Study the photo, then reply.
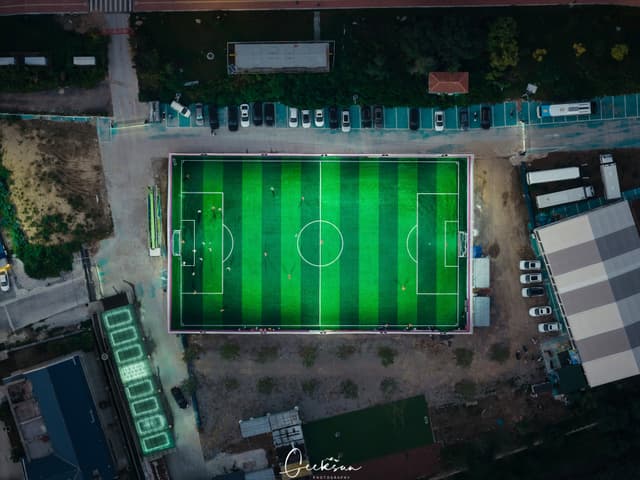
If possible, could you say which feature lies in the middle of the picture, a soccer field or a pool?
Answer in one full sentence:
Visible in the middle of the picture is a soccer field.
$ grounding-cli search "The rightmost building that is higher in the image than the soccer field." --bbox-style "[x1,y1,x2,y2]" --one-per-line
[429,72,468,95]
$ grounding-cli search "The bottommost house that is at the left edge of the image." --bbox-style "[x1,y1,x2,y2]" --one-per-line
[4,356,121,480]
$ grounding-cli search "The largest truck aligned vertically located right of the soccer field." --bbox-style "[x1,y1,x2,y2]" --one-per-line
[594,156,620,201]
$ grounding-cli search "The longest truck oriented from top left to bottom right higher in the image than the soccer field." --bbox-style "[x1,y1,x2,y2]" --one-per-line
[169,99,193,120]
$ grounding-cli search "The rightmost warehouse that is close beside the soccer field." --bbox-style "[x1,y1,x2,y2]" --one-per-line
[529,196,640,389]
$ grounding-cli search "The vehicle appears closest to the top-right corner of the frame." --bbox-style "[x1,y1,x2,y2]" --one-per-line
[539,102,596,119]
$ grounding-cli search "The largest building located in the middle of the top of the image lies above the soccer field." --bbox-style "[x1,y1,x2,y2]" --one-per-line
[228,42,335,77]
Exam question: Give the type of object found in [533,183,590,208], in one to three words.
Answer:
truck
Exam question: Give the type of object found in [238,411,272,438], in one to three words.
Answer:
shed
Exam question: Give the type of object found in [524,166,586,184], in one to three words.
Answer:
vehicle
